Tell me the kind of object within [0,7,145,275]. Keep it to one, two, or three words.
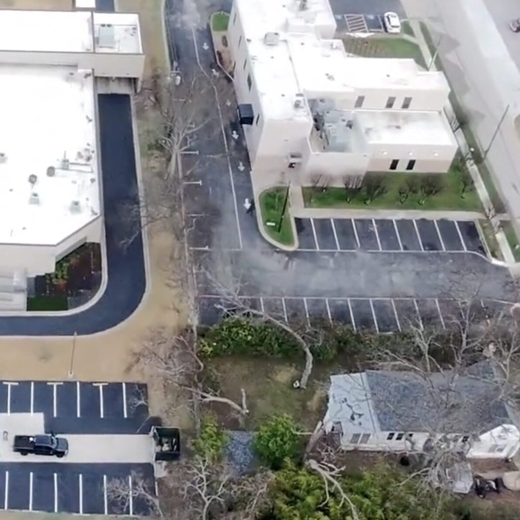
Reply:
building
